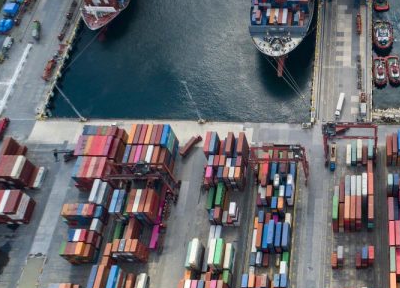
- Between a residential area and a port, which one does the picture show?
port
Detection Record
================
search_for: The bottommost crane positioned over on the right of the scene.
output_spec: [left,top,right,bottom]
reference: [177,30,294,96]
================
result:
[248,146,310,186]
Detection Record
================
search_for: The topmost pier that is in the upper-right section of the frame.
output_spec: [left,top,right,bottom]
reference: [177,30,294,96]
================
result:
[309,0,376,122]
